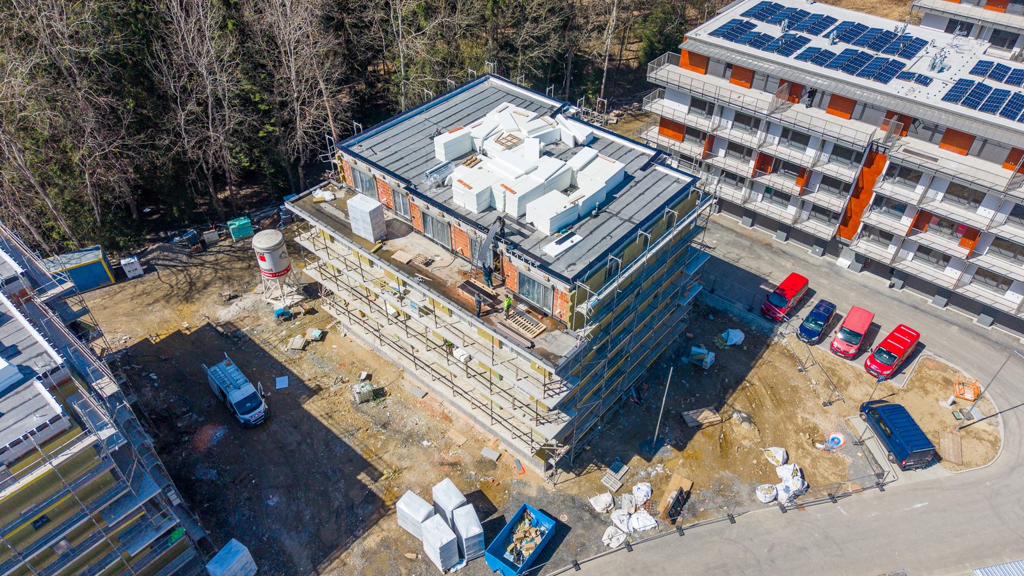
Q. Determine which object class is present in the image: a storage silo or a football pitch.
storage silo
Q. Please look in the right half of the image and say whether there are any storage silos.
No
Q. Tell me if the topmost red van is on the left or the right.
right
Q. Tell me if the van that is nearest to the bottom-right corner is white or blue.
blue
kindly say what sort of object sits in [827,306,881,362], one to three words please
van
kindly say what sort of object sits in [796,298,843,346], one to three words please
car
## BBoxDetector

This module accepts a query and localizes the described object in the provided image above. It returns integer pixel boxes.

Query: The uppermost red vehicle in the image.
[762,274,812,324]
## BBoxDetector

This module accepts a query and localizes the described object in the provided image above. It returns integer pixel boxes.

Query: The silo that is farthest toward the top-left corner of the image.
[256,232,320,326]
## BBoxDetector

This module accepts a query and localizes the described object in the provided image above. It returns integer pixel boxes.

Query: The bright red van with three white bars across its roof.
[865,322,920,382]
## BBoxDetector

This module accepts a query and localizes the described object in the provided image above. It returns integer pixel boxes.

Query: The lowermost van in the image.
[851,398,938,474]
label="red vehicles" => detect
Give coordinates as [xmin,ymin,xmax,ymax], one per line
[865,322,920,382]
[827,306,881,362]
[762,274,812,324]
